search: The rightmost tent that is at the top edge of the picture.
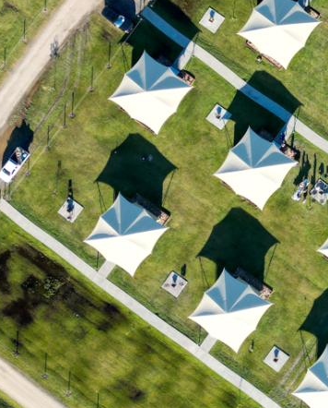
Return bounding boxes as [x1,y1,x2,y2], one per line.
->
[237,0,328,77]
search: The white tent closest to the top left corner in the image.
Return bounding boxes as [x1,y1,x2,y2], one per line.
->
[113,44,211,144]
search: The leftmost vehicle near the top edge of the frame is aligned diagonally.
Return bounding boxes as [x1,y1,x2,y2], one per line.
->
[102,5,133,31]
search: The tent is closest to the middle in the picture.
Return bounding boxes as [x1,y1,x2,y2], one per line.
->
[89,181,189,278]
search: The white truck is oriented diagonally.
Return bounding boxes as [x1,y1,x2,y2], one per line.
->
[0,149,28,180]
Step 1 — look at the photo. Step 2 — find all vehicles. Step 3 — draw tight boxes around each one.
[102,5,133,31]
[0,149,28,180]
